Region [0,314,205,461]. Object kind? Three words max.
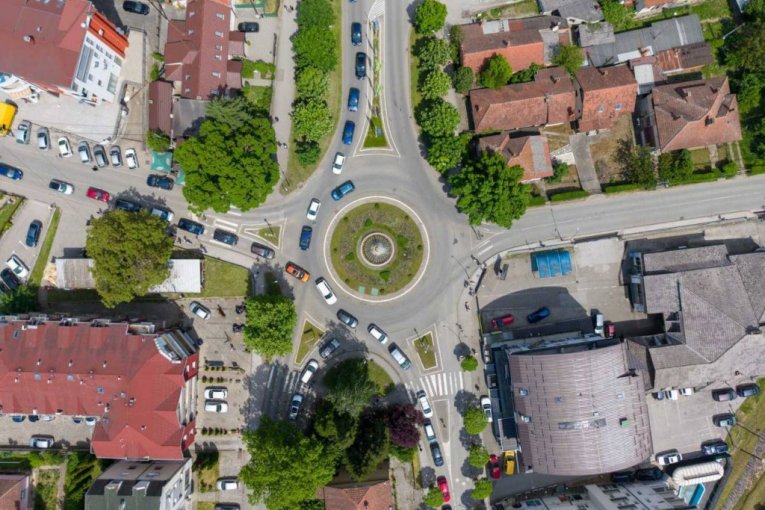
building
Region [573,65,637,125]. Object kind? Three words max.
house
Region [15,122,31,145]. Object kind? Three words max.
car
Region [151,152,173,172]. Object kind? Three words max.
umbrella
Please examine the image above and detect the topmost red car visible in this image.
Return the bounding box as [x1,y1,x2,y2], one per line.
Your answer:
[86,188,111,202]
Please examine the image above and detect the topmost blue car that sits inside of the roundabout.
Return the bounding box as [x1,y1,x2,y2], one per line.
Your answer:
[332,182,355,199]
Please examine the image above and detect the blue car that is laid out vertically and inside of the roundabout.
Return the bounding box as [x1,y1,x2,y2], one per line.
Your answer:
[300,225,312,250]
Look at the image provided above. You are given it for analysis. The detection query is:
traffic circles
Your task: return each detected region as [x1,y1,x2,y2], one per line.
[281,153,473,345]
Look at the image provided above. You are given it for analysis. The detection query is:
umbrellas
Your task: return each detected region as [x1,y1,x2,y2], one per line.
[172,172,186,186]
[151,152,173,172]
